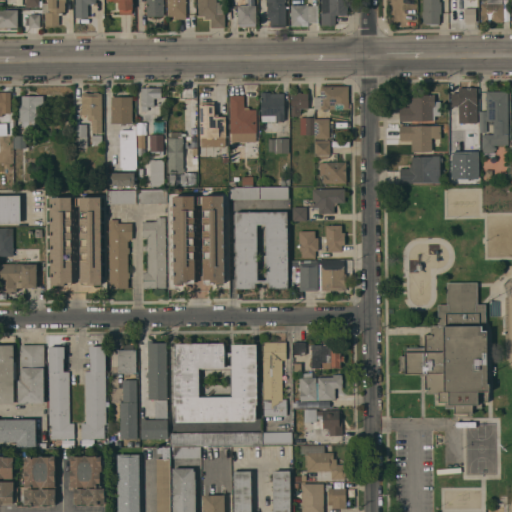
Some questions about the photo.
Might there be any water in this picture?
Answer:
No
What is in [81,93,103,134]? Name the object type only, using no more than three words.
house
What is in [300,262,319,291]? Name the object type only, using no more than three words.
building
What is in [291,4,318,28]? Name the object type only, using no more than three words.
house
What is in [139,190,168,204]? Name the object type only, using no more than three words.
building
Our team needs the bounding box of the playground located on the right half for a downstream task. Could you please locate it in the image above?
[401,238,455,308]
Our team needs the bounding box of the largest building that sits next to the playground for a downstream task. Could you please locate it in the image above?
[400,282,489,412]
